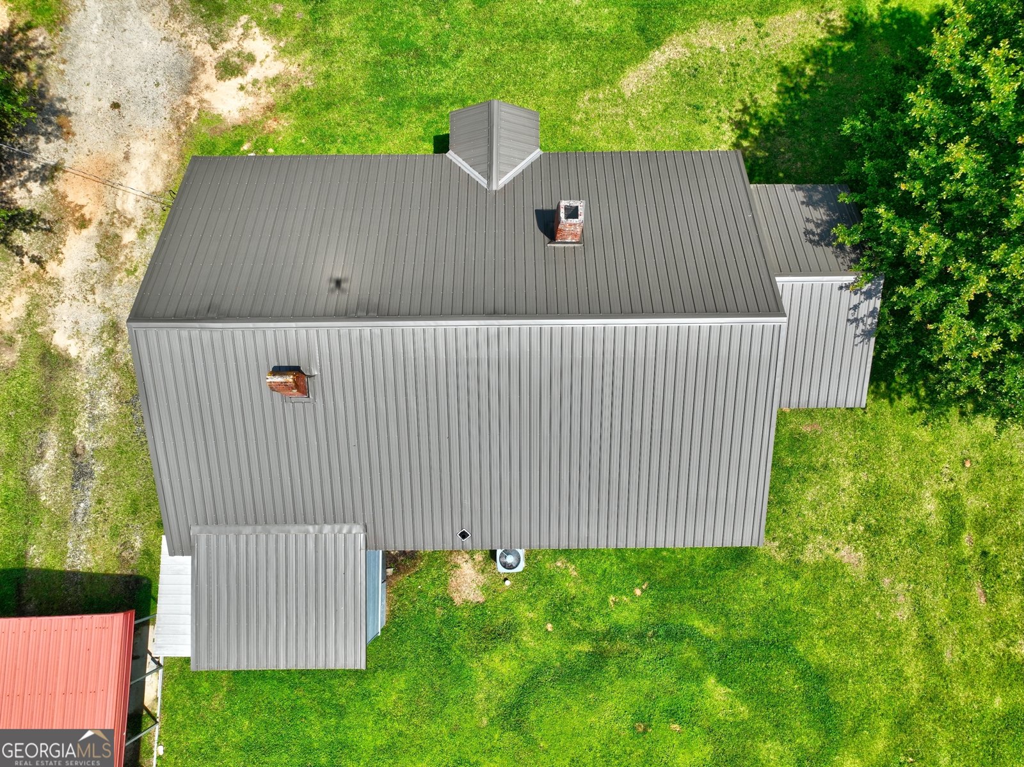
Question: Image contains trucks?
No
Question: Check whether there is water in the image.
No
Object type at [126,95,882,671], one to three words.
house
